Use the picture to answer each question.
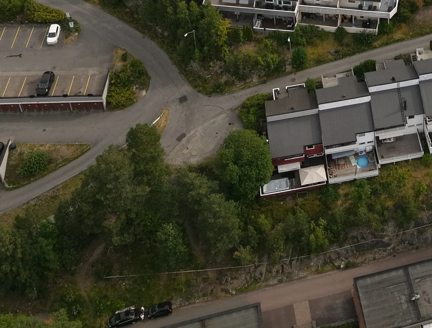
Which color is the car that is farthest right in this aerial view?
black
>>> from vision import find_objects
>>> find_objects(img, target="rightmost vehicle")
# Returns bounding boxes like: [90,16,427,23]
[145,299,174,319]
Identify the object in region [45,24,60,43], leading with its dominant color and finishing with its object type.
white car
